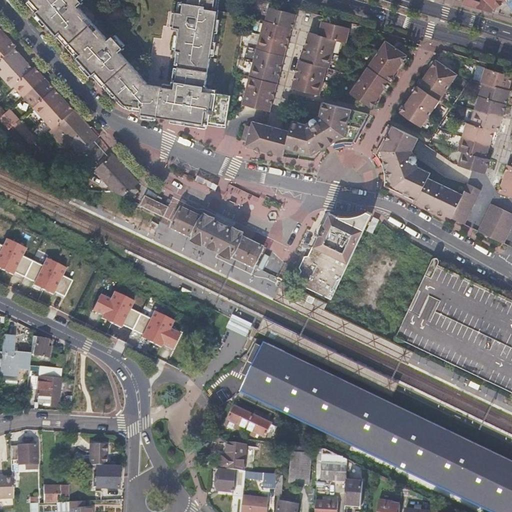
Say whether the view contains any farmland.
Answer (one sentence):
No, there's no farmland in this view.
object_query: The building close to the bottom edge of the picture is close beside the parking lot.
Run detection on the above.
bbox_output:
[238,342,512,512]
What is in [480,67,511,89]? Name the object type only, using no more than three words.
house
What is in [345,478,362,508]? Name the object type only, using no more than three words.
house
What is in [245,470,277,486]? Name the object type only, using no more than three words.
shed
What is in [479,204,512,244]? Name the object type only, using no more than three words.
building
